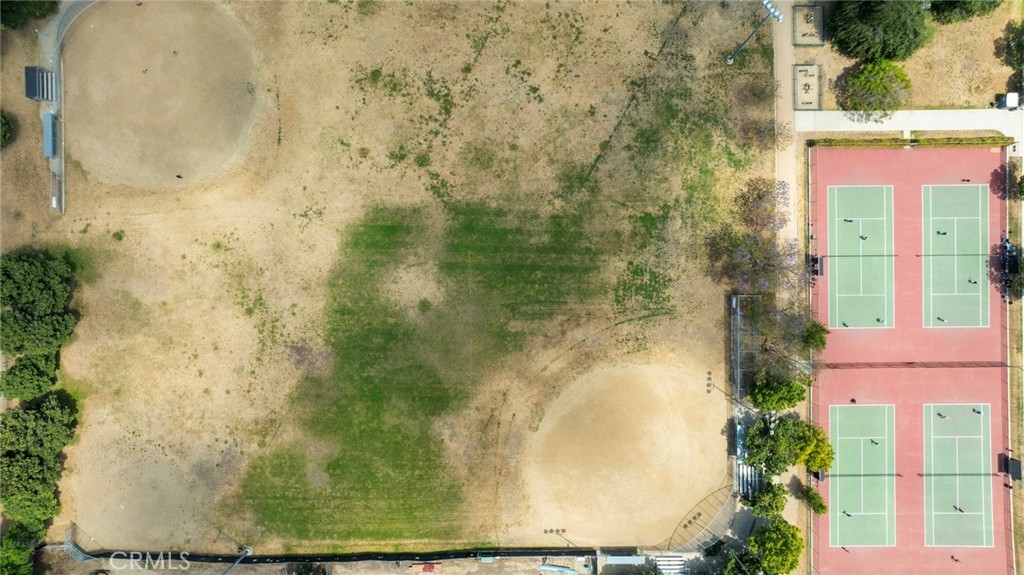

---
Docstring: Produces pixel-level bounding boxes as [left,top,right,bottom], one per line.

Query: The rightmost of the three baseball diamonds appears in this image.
[522,360,733,551]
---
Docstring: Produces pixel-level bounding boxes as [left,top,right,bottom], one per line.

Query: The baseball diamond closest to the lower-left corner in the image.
[76,440,222,554]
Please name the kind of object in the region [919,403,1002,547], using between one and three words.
tennis court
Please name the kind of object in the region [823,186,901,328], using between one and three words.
tennis court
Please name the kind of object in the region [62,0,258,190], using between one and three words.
baseball field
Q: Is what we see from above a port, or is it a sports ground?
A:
sports ground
